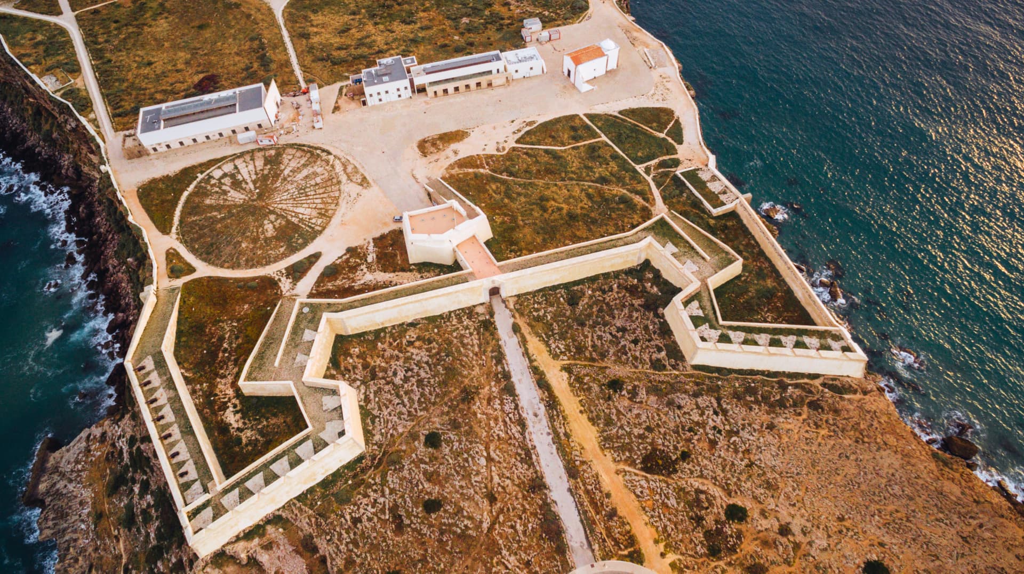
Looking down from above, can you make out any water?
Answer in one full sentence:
Yes, water can be seen from above here.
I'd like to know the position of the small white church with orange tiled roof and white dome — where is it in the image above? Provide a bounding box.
[562,39,619,87]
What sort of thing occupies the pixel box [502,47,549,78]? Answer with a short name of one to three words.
building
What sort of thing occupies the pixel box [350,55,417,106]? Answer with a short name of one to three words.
house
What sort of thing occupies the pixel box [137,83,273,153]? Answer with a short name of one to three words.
building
